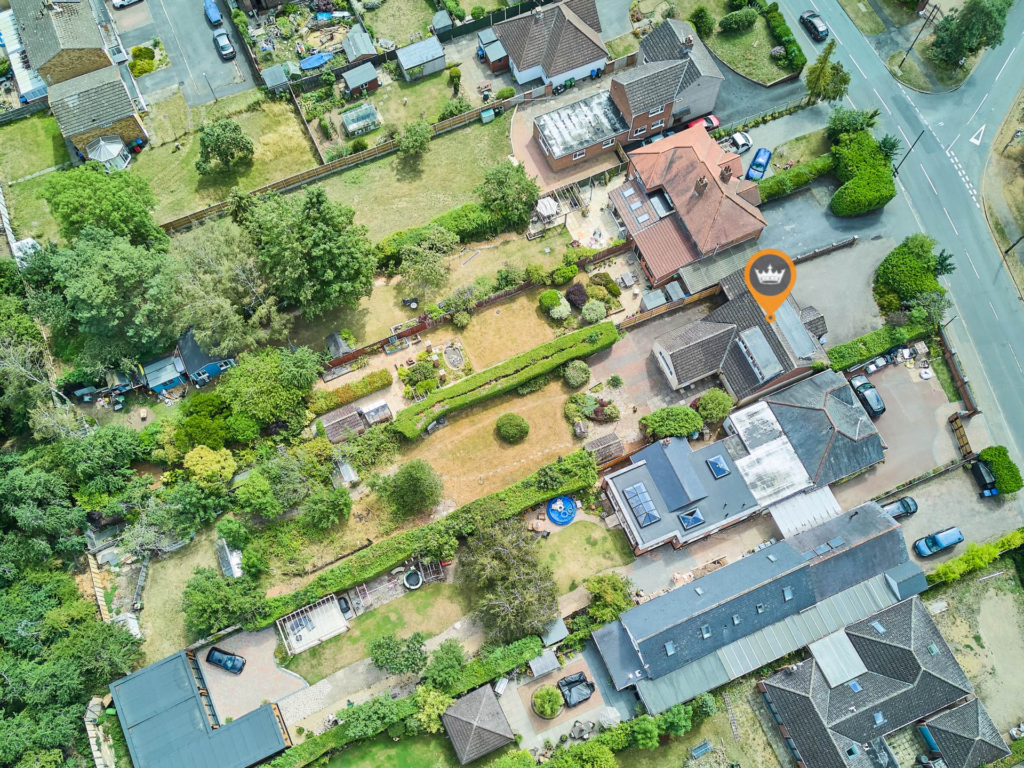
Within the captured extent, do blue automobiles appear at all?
Yes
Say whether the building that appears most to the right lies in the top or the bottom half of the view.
bottom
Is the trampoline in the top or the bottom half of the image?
bottom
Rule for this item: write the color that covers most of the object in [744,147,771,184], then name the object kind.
blue car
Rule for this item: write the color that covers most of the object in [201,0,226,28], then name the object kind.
blue car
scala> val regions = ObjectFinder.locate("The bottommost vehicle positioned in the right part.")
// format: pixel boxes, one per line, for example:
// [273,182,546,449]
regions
[911,524,968,558]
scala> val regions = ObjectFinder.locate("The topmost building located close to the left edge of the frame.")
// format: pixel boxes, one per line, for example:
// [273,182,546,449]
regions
[0,0,135,109]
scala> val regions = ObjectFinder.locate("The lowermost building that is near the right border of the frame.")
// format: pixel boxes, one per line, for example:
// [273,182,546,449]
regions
[917,697,1013,768]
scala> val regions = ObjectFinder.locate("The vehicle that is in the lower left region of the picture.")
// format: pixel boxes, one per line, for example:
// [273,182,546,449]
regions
[202,643,250,678]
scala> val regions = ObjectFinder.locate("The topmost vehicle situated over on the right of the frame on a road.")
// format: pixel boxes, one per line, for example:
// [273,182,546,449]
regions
[797,8,833,45]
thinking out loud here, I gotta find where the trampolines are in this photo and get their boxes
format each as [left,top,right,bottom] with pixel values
[403,570,423,590]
